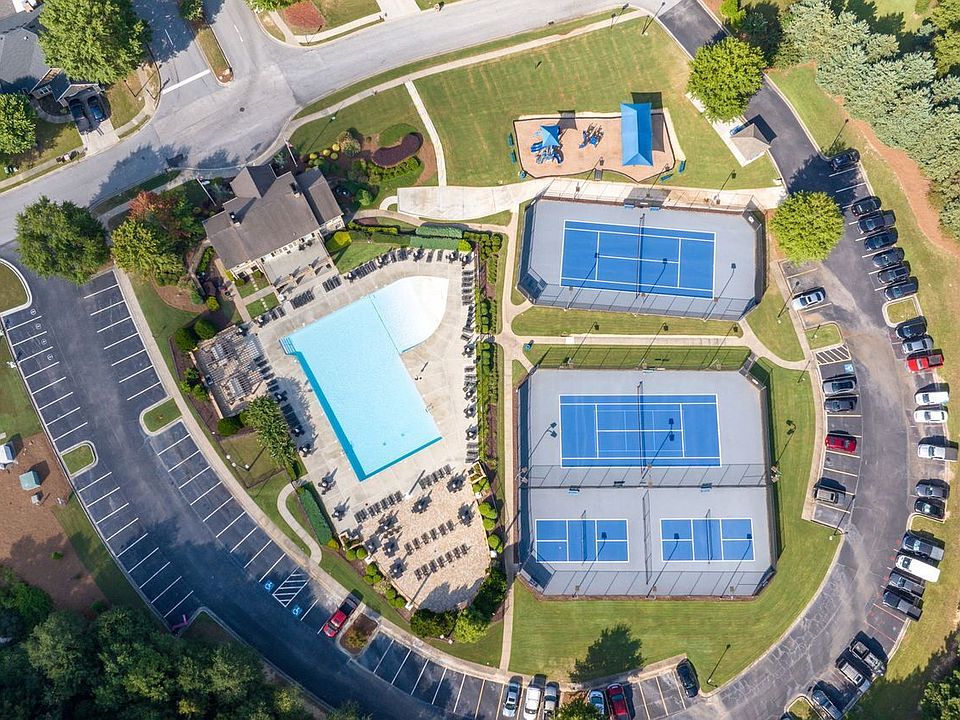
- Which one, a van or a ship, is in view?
van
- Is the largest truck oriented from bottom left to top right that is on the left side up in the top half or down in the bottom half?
bottom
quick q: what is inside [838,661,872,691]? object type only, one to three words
car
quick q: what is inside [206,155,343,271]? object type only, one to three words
building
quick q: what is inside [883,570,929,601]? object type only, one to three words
truck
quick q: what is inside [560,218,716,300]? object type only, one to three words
tennis court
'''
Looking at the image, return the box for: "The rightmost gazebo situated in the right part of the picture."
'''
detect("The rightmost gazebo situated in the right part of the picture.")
[728,124,771,169]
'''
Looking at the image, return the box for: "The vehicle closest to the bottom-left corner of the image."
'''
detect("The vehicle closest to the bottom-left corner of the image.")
[322,597,358,640]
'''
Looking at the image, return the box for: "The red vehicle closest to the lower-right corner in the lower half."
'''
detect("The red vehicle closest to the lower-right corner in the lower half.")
[823,436,857,451]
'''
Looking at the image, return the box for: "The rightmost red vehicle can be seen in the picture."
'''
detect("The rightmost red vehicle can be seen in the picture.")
[904,353,947,369]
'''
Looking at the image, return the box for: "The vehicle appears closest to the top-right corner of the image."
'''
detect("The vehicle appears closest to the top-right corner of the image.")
[829,151,860,170]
